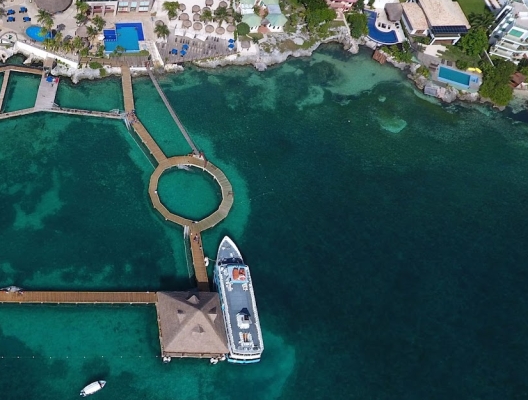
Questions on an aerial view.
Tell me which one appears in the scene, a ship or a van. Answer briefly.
ship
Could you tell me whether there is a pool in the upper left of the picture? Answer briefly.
Yes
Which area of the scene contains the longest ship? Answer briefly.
bottom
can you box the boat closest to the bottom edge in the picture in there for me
[79,380,106,398]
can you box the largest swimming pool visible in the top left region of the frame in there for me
[102,22,146,53]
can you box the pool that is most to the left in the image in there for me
[24,24,55,42]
